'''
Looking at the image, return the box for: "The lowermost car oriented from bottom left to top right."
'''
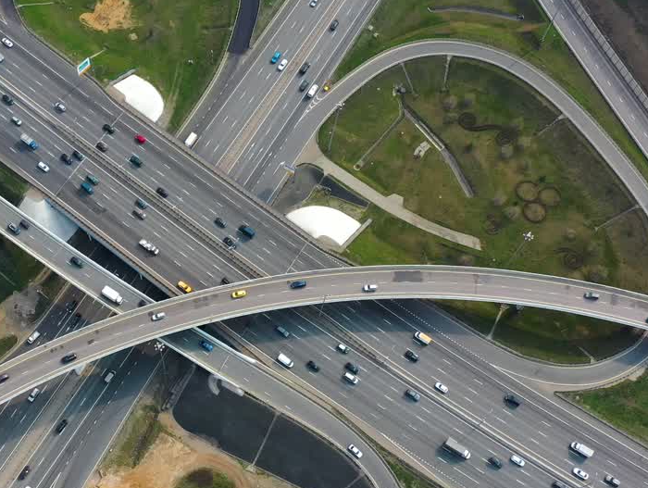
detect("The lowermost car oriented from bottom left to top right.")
[16,465,30,481]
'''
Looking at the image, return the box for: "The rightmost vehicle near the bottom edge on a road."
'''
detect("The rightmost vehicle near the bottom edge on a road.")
[603,475,621,488]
